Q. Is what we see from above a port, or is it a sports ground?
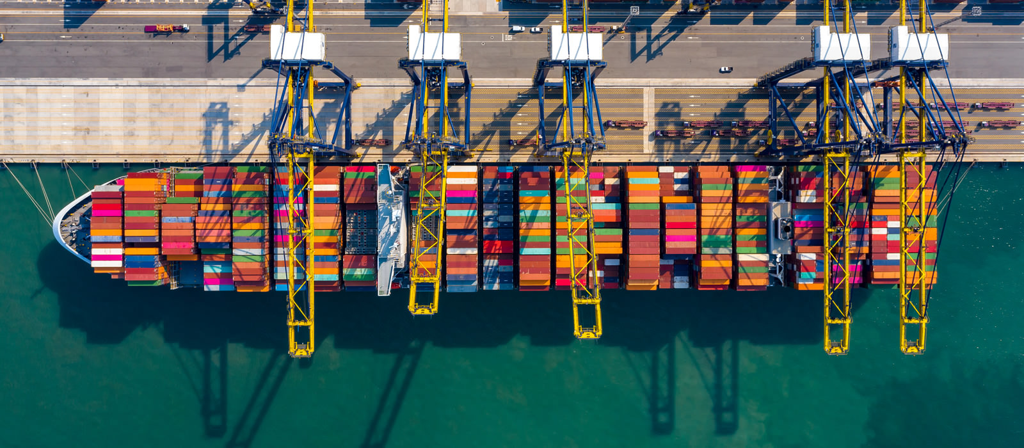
port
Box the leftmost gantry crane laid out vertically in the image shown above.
[259,0,368,360]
